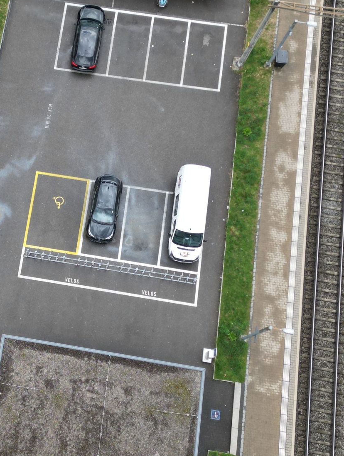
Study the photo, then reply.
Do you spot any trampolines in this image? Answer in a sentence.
No, no trampoline is visible in the scene.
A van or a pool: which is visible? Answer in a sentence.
The image shows a van.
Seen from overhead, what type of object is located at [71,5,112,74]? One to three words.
car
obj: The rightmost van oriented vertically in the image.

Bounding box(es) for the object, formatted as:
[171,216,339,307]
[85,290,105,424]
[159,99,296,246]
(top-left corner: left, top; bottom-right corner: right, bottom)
[169,165,213,260]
